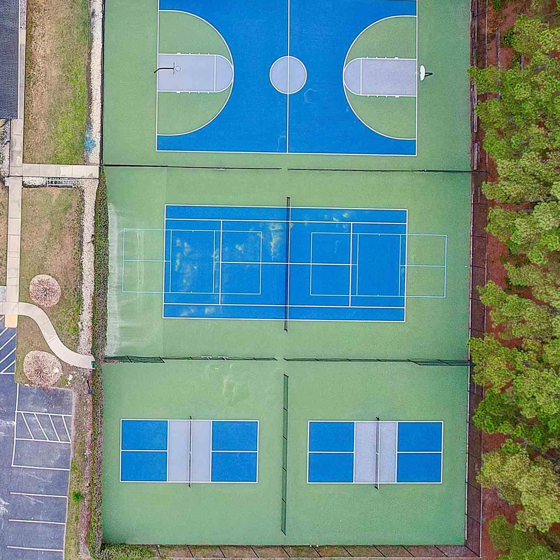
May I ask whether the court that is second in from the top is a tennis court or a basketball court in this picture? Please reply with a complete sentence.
From above, the court that is second in from the top can be identified as a tennis court.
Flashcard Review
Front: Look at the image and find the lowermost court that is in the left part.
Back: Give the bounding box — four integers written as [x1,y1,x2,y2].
[102,360,284,547]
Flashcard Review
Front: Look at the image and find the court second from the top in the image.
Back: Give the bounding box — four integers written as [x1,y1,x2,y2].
[105,166,470,361]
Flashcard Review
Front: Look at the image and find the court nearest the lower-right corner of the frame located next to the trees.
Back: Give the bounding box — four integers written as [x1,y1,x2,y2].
[282,361,467,547]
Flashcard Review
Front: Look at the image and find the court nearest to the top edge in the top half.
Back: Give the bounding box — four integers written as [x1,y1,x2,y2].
[106,0,472,170]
